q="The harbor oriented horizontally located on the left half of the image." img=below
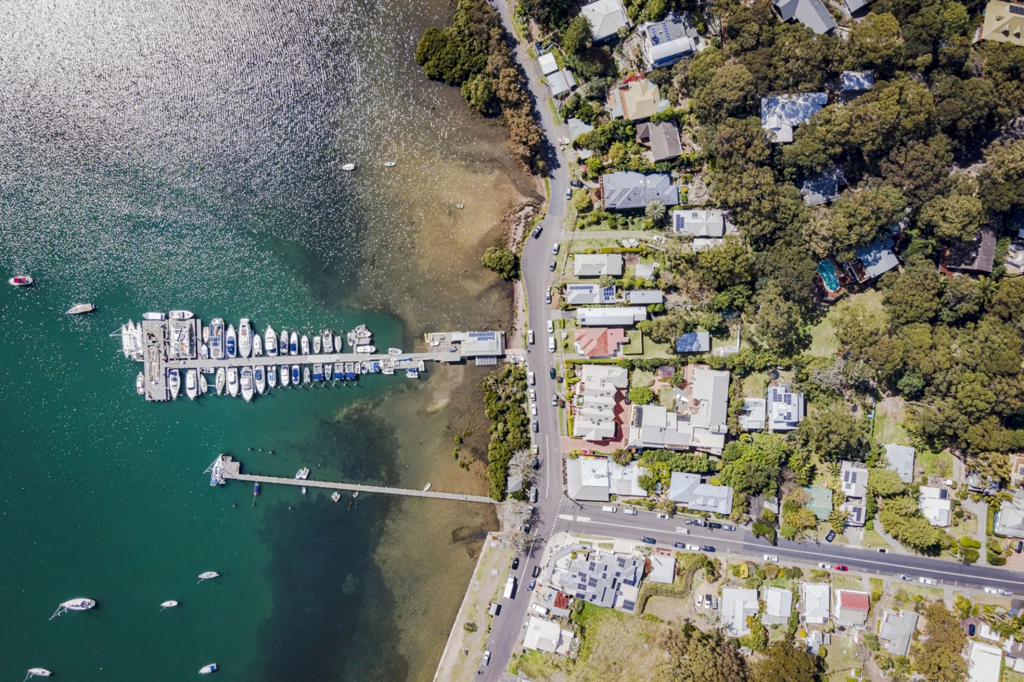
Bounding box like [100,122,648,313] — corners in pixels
[142,319,460,400]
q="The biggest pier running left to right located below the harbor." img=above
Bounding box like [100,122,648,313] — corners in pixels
[222,456,503,504]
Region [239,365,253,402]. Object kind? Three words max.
boat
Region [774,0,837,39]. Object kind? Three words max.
house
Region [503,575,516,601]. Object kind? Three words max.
vehicle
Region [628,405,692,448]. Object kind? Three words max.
building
